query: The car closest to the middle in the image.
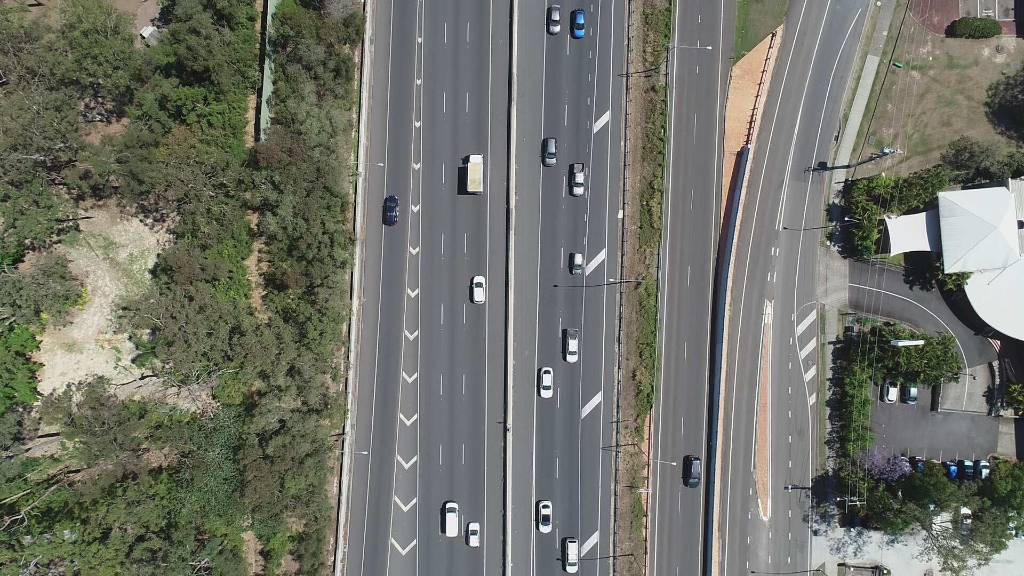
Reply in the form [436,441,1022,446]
[471,275,485,304]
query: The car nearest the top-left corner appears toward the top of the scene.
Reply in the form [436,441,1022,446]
[383,195,398,225]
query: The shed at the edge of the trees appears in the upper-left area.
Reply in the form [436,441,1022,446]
[131,14,171,50]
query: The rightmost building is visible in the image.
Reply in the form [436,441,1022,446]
[935,179,1024,339]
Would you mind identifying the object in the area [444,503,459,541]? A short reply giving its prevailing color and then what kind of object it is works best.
white vehicle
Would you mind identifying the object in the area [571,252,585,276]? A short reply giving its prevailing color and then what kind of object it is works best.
white car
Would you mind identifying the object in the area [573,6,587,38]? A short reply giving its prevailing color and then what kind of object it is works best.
blue car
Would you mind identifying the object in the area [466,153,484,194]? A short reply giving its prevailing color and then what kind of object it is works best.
white vehicle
